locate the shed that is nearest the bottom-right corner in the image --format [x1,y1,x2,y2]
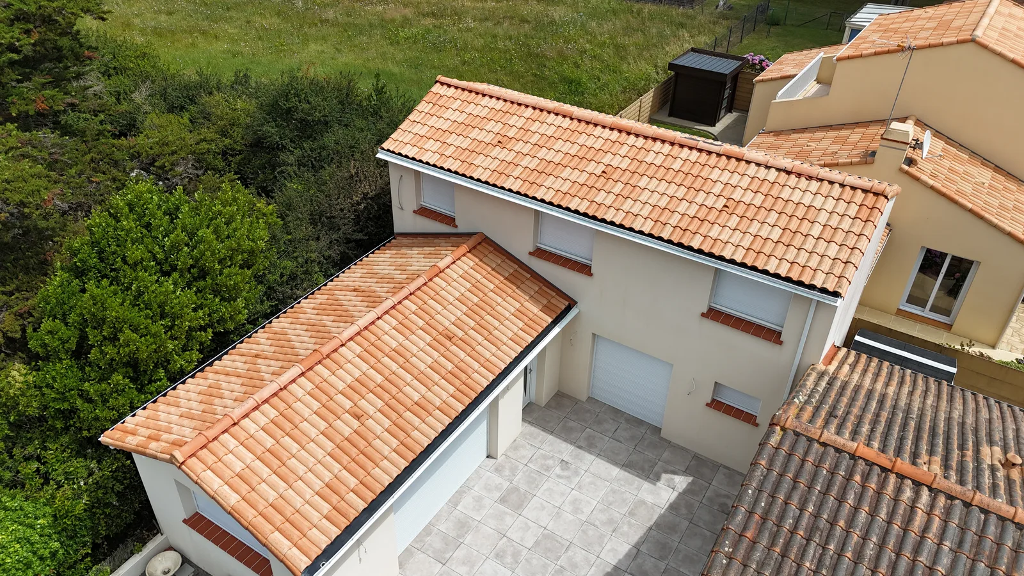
[703,346,1024,576]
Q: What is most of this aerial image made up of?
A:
buildings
